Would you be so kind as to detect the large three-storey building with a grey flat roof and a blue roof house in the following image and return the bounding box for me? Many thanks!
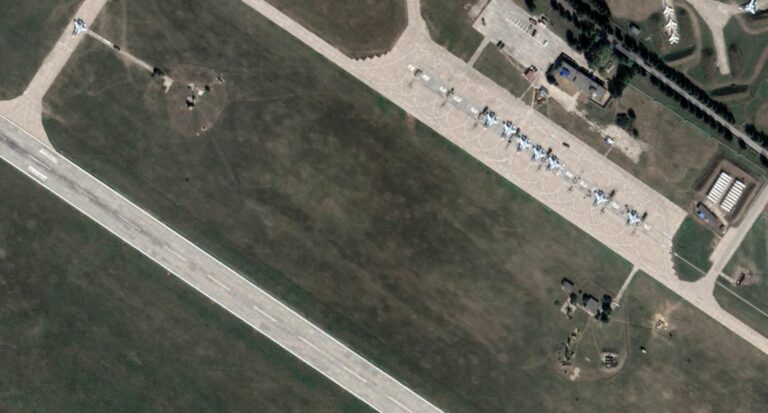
[558,62,610,106]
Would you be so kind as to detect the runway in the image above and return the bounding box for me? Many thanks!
[0,114,444,413]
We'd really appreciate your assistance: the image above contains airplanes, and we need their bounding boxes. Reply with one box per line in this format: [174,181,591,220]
[628,208,640,225]
[519,134,531,151]
[73,16,86,33]
[505,121,517,138]
[486,110,498,127]
[533,144,547,161]
[663,4,673,17]
[669,34,680,46]
[549,154,561,171]
[742,1,760,13]
[596,188,608,205]
[667,19,676,31]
